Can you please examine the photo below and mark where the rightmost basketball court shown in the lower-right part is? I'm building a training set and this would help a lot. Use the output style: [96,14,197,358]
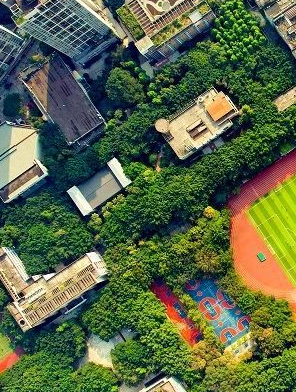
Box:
[185,274,253,347]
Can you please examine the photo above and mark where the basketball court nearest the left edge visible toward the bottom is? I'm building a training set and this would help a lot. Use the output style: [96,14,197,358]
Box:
[149,277,204,347]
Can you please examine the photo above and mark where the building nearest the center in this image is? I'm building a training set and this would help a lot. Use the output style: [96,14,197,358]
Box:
[66,160,130,216]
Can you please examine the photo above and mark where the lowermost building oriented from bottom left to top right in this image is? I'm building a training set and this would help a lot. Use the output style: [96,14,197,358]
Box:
[7,255,110,332]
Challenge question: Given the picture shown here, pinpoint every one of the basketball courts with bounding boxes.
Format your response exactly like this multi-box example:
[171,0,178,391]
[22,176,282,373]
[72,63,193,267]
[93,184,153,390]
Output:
[149,277,204,347]
[185,274,253,347]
